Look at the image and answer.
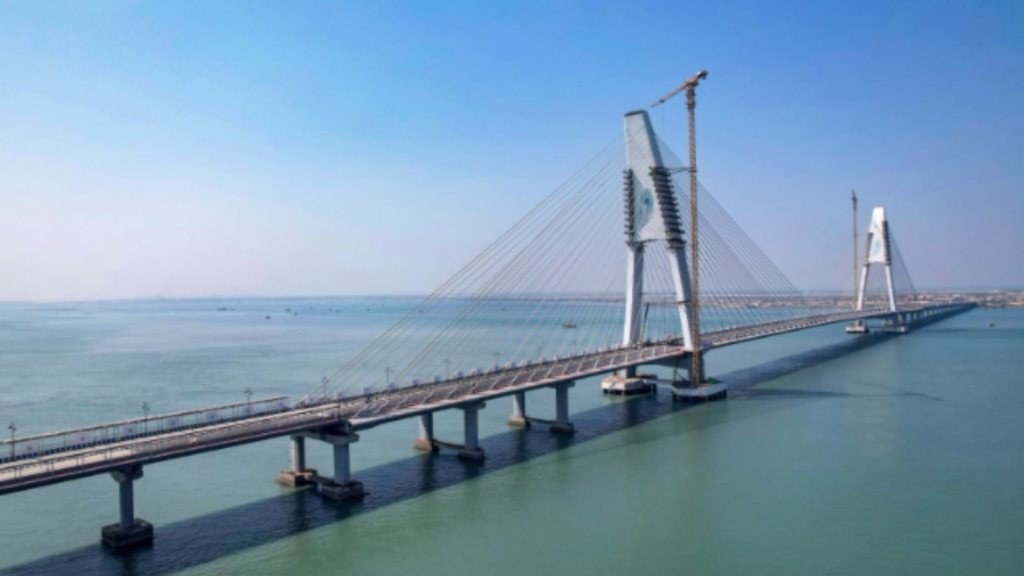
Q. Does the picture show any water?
Yes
